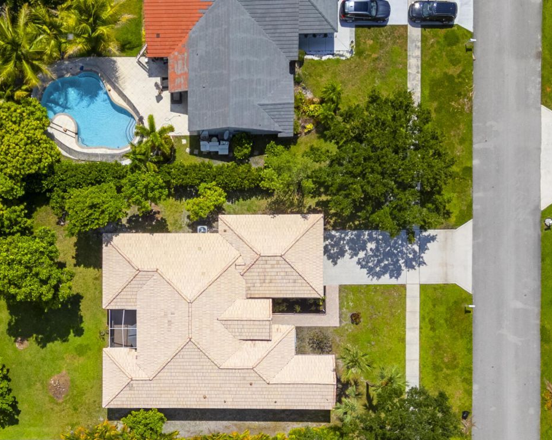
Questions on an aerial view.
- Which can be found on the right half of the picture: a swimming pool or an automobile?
automobile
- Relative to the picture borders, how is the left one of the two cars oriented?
horizontally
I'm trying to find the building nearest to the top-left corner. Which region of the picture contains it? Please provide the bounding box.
[144,0,338,137]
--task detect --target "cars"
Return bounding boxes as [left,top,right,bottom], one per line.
[340,1,391,24]
[408,0,458,25]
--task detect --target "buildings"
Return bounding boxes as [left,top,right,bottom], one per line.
[144,0,338,137]
[103,214,337,408]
